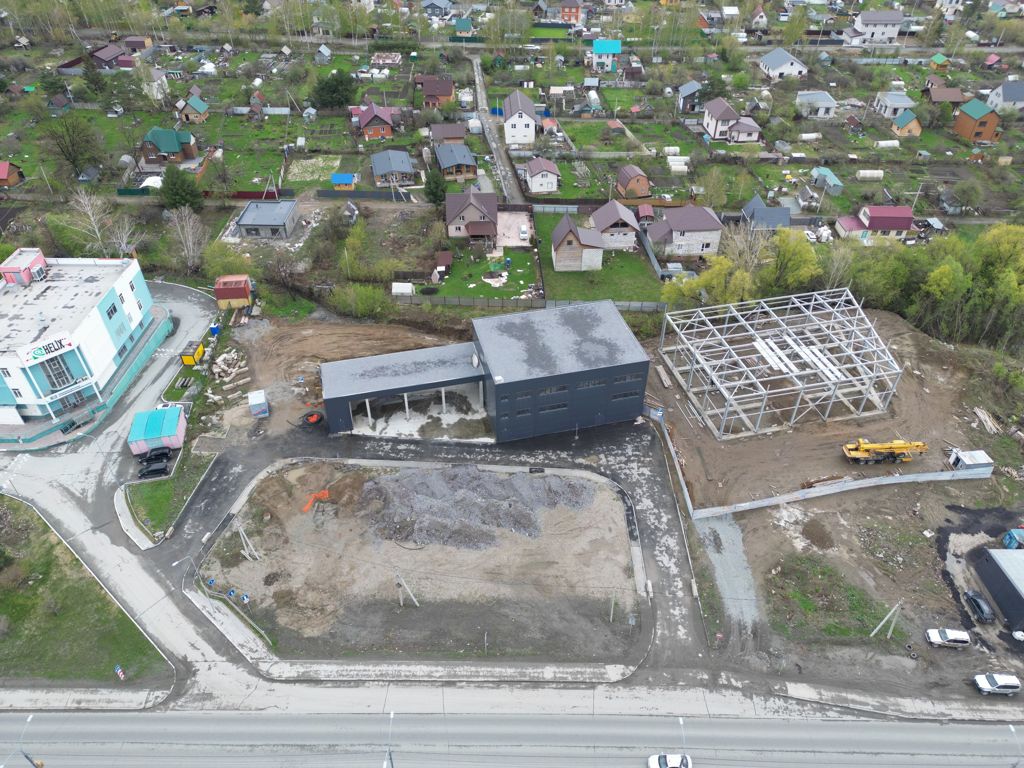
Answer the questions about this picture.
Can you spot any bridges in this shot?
No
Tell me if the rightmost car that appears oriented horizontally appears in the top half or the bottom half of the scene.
bottom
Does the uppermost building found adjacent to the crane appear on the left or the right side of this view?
right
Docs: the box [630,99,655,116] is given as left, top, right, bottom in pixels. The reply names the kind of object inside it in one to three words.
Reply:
shed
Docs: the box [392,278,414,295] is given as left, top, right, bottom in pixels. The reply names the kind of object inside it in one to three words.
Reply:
greenhouse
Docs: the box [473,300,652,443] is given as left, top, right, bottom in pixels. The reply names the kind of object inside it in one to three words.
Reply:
building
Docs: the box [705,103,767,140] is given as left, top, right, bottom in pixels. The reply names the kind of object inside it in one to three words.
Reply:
house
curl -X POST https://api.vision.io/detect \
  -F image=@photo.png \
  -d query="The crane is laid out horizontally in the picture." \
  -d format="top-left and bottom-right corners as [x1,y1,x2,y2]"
[843,436,934,465]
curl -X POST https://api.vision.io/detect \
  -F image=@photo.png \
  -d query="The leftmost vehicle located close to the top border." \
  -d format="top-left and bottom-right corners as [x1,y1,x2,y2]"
[104,30,123,43]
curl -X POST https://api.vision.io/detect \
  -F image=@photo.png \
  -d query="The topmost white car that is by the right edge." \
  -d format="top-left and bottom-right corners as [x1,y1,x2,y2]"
[925,627,979,652]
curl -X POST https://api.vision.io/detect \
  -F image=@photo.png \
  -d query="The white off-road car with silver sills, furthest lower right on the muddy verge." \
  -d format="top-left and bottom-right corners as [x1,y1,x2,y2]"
[972,671,1024,698]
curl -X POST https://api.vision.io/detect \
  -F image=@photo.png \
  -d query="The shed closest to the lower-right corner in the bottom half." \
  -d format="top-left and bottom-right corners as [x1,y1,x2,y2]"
[960,543,1024,662]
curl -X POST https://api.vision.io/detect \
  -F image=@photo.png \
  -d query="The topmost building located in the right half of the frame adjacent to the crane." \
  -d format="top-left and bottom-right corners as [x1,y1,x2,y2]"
[657,285,904,440]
